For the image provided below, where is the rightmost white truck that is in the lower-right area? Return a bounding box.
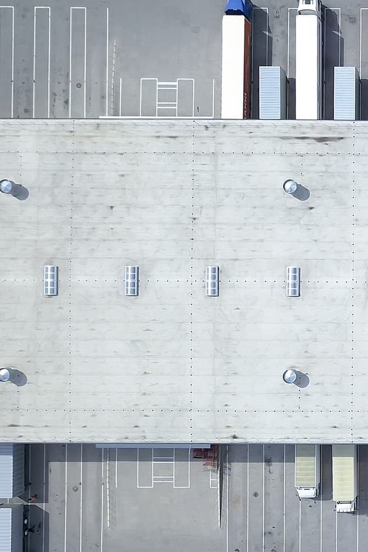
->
[334,446,358,515]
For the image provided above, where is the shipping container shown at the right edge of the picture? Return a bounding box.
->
[335,67,361,121]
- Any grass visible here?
No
